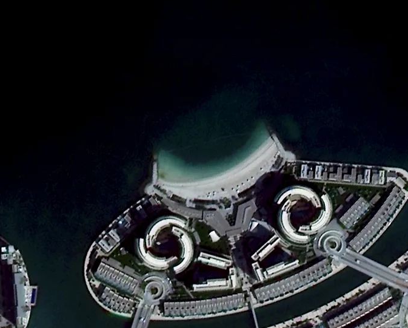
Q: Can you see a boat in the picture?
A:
No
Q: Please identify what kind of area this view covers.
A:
residential area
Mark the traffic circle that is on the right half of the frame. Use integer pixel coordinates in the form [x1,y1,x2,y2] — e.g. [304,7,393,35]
[316,228,349,261]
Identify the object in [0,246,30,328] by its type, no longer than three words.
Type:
building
